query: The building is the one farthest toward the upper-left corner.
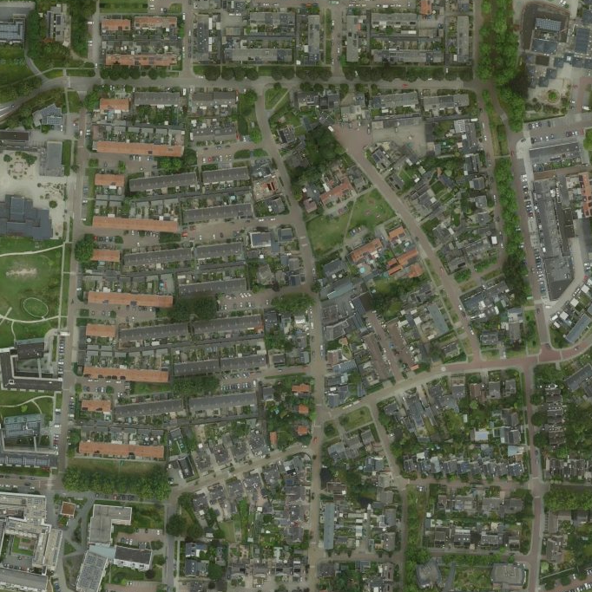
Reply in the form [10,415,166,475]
[0,18,26,44]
